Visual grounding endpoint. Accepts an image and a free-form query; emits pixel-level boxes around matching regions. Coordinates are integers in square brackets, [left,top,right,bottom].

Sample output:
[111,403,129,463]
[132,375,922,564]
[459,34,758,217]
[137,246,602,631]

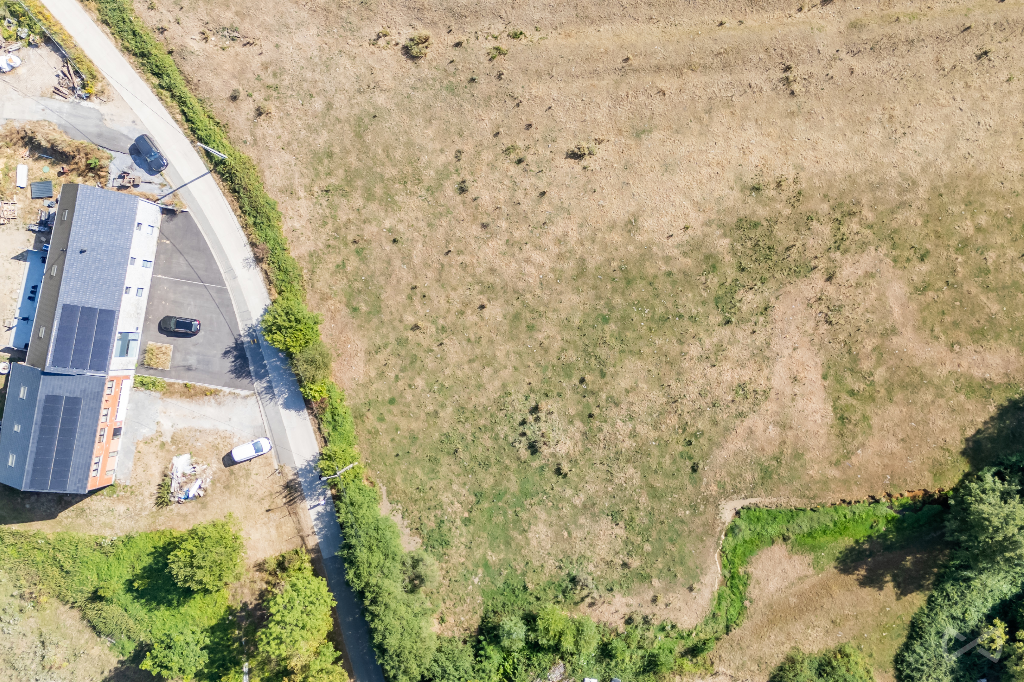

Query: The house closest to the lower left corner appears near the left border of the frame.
[0,361,132,495]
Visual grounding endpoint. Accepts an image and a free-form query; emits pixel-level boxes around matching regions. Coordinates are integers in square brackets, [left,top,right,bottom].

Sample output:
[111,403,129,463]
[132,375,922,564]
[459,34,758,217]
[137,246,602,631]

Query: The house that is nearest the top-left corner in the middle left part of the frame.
[29,183,163,378]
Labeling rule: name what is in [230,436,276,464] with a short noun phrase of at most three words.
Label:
car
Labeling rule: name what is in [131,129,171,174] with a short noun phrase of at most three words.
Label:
car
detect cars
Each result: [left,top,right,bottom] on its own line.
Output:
[230,436,276,464]
[131,129,171,174]
[160,313,204,337]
